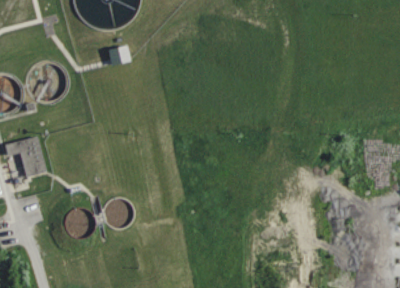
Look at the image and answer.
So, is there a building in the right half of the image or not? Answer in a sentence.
No, no building appears in the right half of the image.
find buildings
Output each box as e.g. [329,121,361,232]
[104,44,131,66]
[4,136,46,178]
